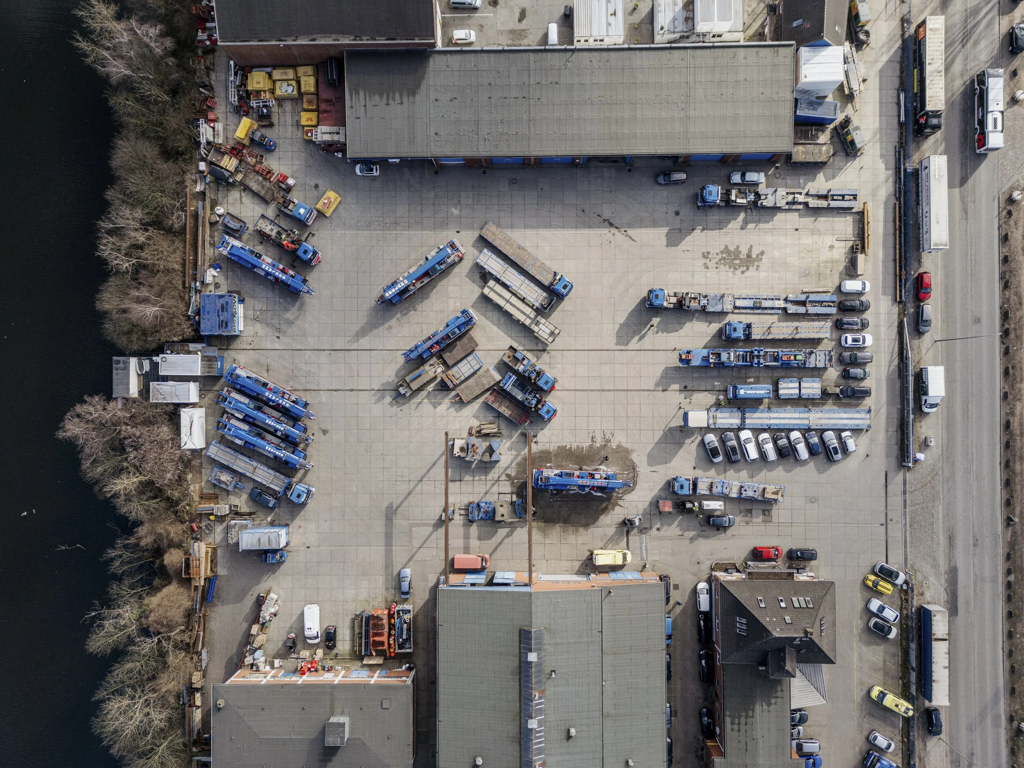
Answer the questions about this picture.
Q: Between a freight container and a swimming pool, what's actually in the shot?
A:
freight container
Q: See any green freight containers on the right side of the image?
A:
No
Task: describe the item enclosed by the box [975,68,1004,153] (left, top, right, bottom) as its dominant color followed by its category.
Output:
white bus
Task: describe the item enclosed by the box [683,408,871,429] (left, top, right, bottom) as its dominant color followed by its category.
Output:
white trailer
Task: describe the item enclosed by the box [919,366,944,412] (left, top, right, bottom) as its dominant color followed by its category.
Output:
white vehicle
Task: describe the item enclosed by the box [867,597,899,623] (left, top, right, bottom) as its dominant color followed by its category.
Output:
white car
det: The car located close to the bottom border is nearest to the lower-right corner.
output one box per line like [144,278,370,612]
[926,705,945,736]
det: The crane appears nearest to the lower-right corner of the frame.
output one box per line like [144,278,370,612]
[532,469,633,494]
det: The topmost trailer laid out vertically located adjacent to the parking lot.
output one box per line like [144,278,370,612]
[918,604,950,705]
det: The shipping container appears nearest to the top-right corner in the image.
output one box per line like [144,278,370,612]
[795,99,839,125]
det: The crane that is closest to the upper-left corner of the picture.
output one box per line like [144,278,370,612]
[216,232,315,295]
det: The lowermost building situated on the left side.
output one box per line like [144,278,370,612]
[211,670,414,768]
